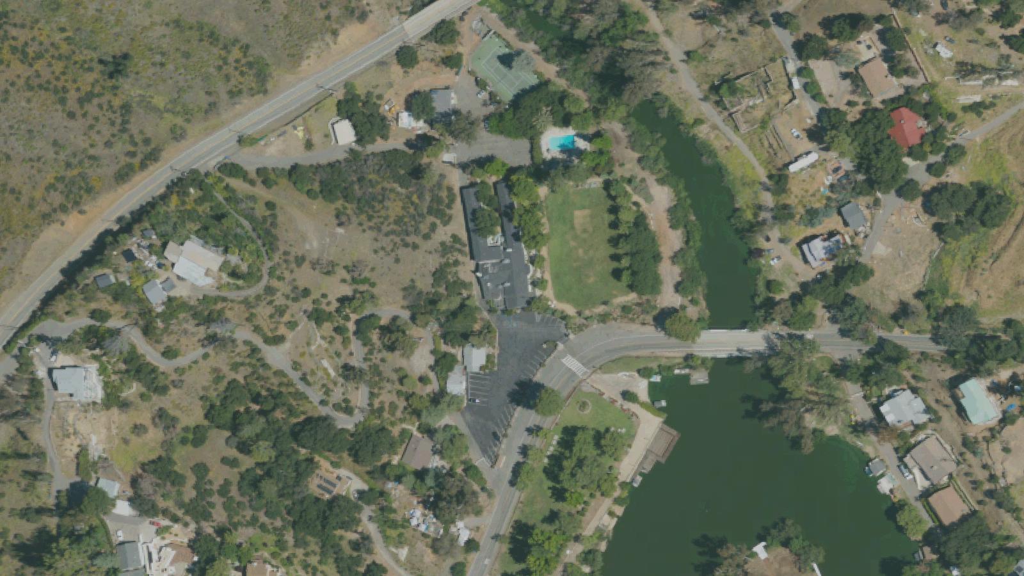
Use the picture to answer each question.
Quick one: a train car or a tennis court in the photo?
tennis court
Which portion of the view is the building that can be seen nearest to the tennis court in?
top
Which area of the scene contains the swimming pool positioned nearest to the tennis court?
top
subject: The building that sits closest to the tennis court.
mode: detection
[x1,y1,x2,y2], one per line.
[432,90,456,111]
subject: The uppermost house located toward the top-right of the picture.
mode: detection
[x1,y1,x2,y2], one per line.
[859,59,898,97]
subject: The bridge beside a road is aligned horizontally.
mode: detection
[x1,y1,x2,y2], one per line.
[690,330,766,357]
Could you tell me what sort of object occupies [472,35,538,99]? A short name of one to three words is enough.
tennis court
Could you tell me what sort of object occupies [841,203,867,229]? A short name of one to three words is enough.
house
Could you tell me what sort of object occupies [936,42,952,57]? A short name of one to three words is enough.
vehicle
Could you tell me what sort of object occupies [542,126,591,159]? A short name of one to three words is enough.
swimming pool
